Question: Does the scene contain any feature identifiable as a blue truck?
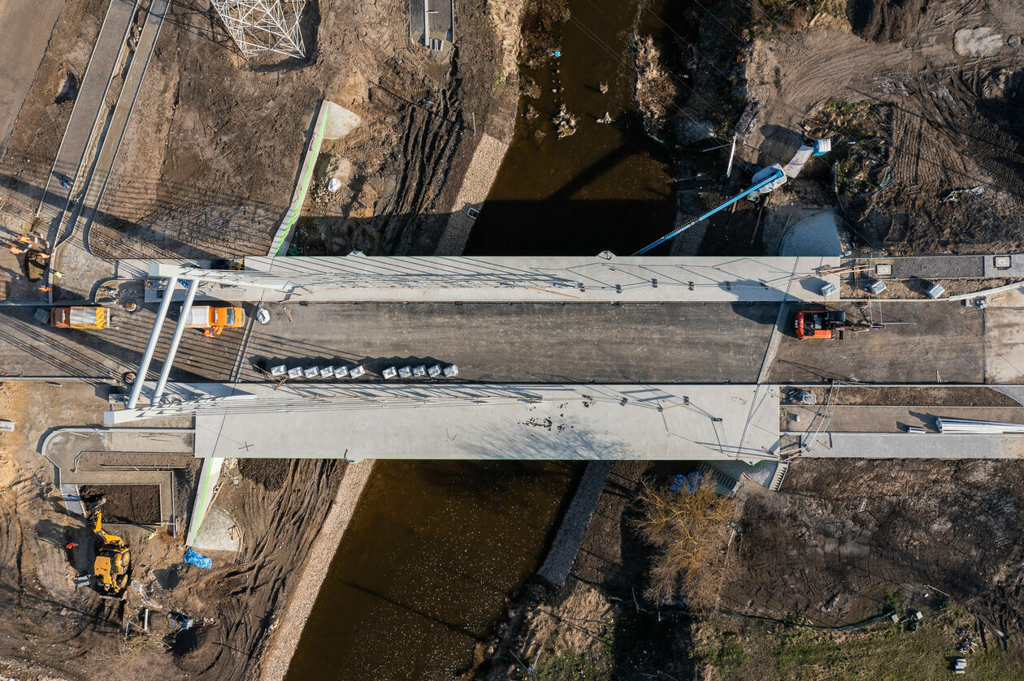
No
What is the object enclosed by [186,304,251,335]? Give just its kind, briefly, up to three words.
truck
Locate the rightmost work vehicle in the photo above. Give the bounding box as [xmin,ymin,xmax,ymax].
[792,310,880,339]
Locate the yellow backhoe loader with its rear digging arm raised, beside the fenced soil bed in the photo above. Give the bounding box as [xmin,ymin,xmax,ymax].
[94,509,135,607]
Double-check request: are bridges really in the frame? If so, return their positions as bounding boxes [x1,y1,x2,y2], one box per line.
[106,251,840,466]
